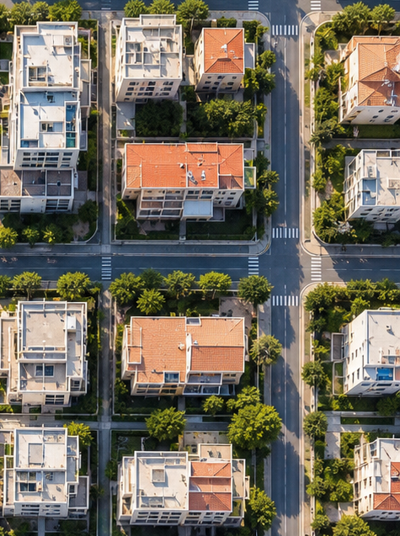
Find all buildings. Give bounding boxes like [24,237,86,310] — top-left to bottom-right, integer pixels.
[351,423,400,525]
[0,21,92,211]
[330,309,400,398]
[120,141,257,223]
[119,313,244,399]
[0,423,89,515]
[346,148,400,227]
[0,295,88,408]
[121,443,251,524]
[109,13,182,100]
[194,27,255,91]
[339,34,400,130]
